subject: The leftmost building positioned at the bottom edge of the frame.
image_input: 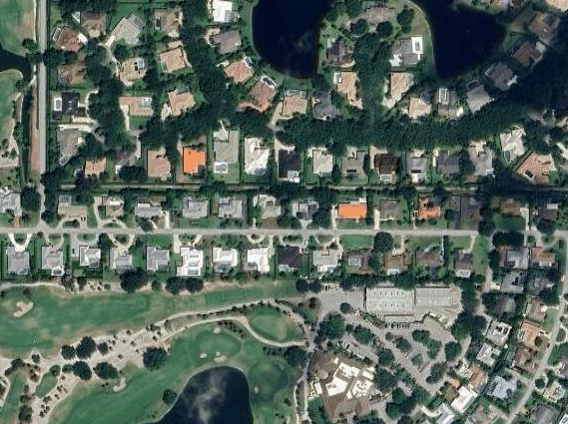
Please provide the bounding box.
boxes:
[307,350,378,420]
